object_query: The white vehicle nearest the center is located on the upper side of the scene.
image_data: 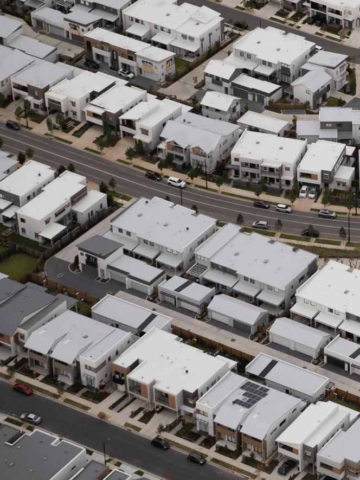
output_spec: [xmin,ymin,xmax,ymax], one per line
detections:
[167,176,187,188]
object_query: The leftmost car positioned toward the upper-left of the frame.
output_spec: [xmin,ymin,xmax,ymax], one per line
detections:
[3,119,22,131]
